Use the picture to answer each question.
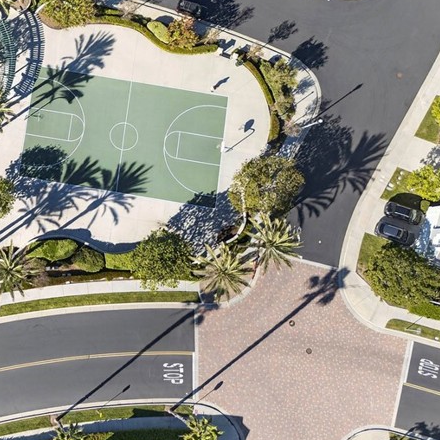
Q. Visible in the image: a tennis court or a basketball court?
basketball court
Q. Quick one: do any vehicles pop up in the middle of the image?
No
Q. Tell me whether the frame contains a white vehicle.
No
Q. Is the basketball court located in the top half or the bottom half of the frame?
top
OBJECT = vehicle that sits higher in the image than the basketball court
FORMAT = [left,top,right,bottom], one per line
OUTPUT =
[177,0,210,14]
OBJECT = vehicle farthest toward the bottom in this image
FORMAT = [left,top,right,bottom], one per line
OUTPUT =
[377,218,417,245]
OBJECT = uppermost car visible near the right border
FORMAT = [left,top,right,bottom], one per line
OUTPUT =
[385,198,426,226]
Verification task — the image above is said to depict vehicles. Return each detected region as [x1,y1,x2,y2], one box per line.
[377,218,417,245]
[385,198,426,226]
[177,0,210,14]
